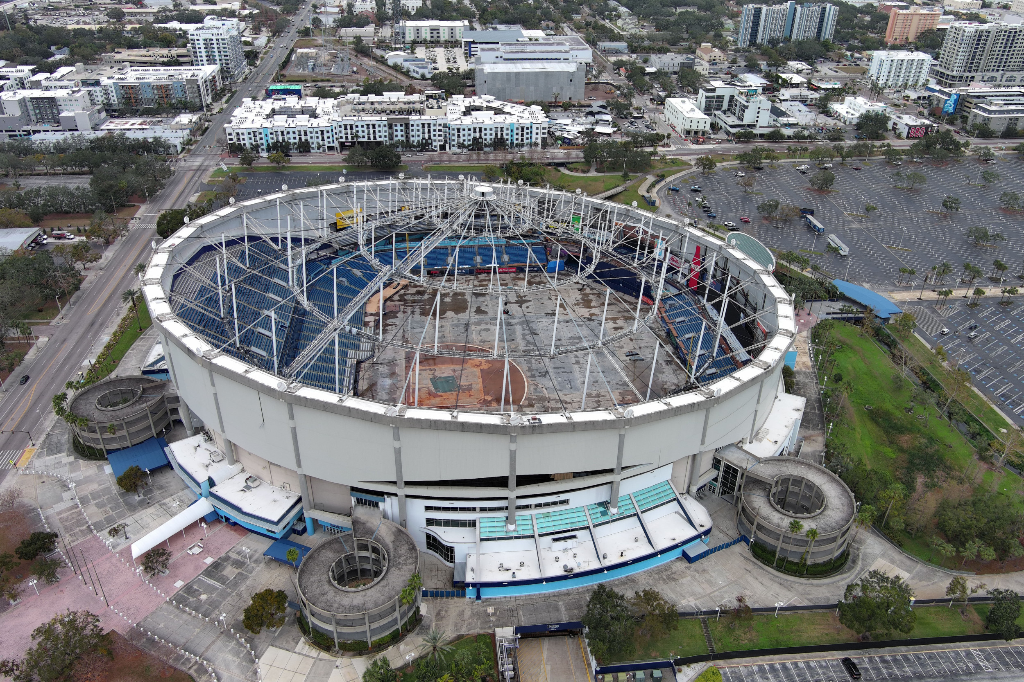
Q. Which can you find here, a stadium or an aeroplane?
stadium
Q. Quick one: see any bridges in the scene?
Yes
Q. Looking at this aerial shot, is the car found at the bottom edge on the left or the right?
right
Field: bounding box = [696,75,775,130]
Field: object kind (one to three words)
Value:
building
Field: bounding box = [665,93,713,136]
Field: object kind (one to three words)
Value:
building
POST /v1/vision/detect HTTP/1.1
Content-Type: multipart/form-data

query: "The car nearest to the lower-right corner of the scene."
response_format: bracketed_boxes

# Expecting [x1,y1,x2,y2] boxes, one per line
[842,661,862,682]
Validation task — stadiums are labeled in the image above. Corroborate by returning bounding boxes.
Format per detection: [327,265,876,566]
[138,172,799,539]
